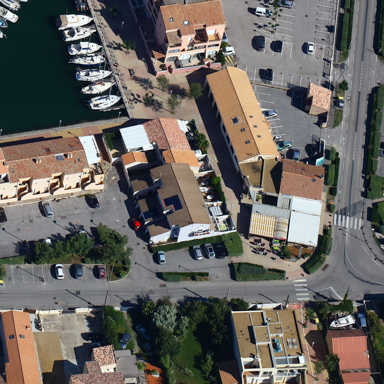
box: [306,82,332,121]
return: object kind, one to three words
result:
house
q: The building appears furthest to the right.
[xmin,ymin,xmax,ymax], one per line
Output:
[325,329,371,384]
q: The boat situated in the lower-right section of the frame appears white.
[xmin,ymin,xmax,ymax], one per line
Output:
[330,312,359,328]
